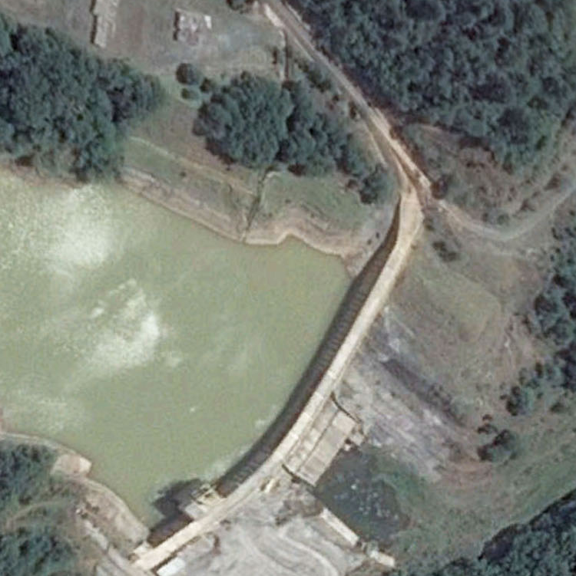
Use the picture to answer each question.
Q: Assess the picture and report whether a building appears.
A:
Yes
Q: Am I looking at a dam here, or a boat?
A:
dam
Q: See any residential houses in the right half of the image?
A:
No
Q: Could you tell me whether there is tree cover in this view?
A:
Yes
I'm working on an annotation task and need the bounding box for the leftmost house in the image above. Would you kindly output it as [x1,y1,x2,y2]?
[94,0,115,45]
